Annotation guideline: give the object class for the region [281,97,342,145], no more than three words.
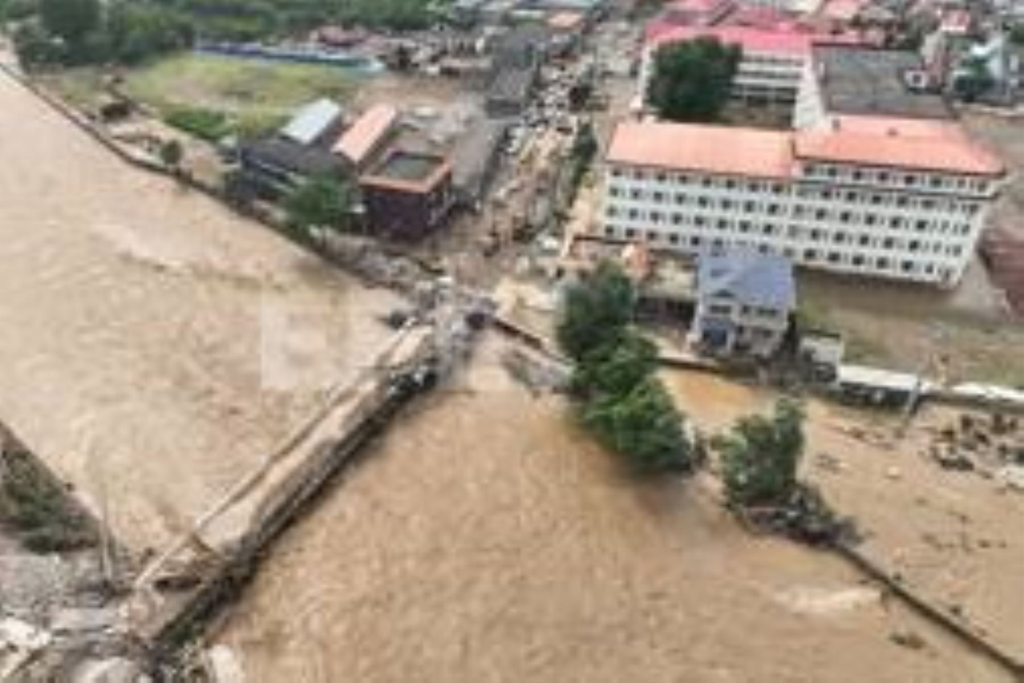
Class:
shed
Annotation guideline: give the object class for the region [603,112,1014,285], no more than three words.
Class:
building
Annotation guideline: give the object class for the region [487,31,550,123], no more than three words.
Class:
building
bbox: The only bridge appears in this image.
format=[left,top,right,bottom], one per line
[99,315,468,661]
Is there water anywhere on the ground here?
Yes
